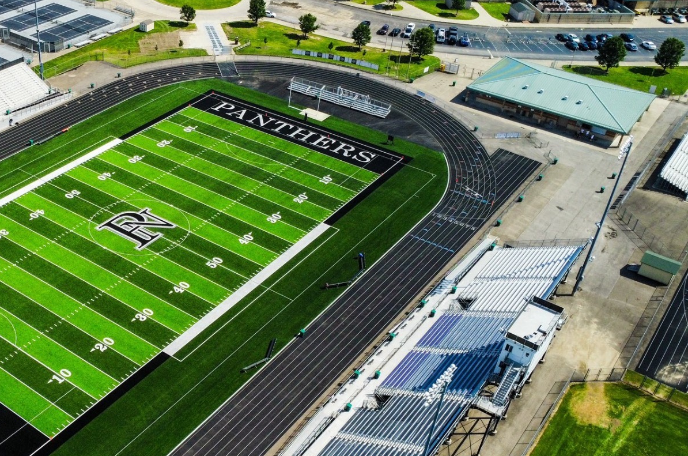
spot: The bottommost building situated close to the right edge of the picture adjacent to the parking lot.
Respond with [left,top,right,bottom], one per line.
[467,56,659,145]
